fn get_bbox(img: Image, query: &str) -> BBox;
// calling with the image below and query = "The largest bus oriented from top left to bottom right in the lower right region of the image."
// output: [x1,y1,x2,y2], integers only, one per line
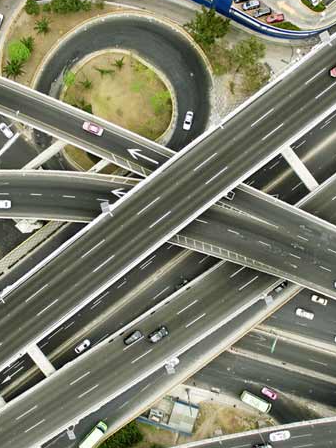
[239,389,272,417]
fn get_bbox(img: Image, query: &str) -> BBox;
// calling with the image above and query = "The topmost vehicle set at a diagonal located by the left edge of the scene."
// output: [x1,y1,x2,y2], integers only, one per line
[0,122,14,140]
